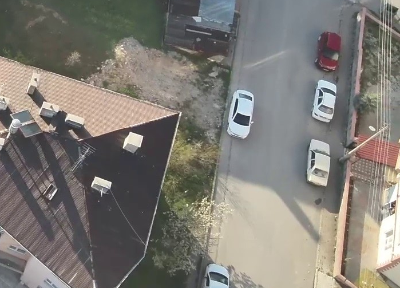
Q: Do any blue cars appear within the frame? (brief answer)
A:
No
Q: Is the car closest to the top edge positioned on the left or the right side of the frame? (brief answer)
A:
right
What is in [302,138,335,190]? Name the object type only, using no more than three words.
car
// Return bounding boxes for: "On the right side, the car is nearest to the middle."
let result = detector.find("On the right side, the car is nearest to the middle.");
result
[226,89,255,140]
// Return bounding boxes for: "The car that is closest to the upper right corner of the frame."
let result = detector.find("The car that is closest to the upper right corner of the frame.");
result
[314,30,343,72]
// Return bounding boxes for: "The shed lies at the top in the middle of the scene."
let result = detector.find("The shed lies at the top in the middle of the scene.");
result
[160,0,235,59]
